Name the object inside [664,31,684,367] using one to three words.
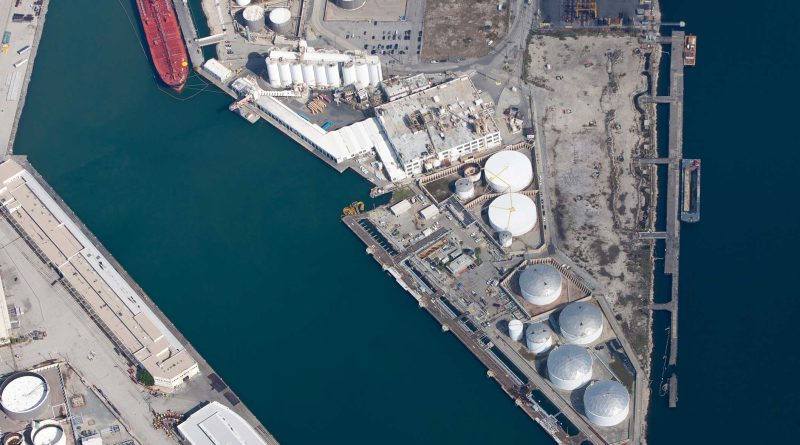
pier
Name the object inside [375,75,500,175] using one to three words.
building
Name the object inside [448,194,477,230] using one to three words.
shed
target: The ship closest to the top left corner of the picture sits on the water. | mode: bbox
[137,0,189,97]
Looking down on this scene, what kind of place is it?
port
